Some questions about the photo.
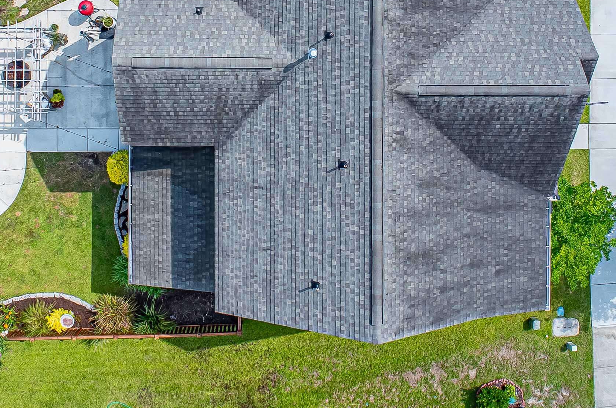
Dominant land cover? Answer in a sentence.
Most of the picture is covered by buildings.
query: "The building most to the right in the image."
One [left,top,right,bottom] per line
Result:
[112,0,609,345]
